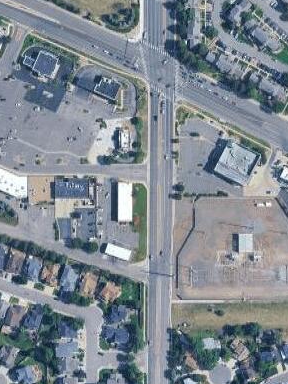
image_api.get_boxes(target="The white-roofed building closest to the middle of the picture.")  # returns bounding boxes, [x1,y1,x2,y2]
[118,183,133,222]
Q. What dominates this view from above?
paved ground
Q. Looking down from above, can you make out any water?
No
